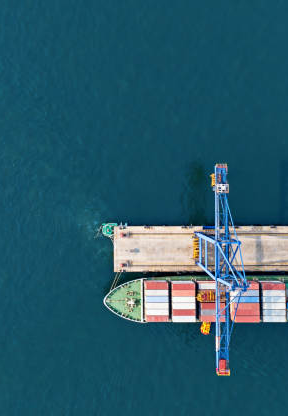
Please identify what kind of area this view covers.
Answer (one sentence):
The picture captures a port.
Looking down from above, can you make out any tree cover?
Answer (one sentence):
No, there is no tree cover in the image.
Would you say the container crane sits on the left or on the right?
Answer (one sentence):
The container crane is on the right side of the image.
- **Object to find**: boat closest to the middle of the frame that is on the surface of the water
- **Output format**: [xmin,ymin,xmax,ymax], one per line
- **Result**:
[103,224,119,237]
